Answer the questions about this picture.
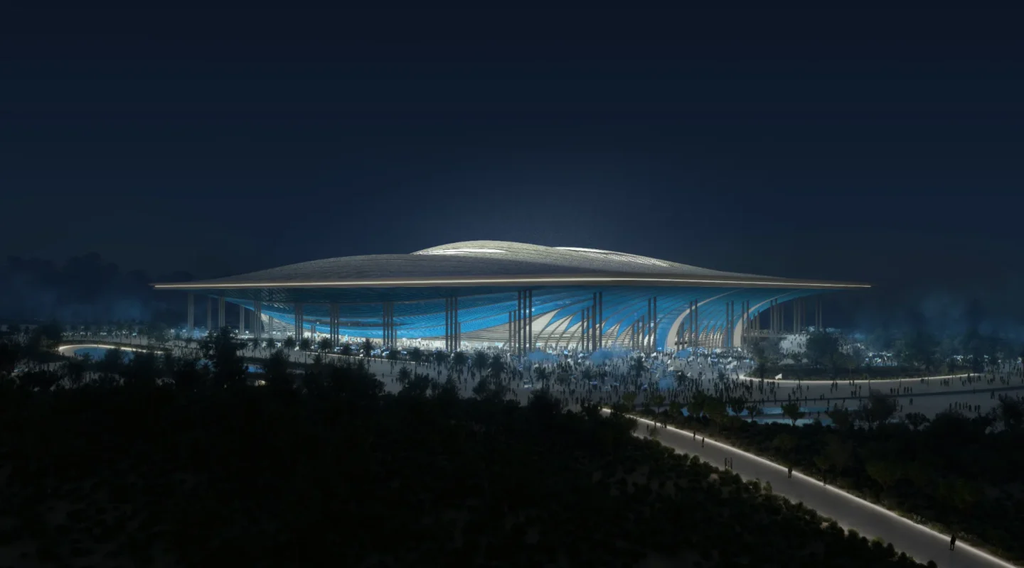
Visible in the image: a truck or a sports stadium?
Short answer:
sports stadium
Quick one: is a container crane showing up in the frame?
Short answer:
No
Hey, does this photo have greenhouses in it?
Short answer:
No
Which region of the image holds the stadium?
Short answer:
center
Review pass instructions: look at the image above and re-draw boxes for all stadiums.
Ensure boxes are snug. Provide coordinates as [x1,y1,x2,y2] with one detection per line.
[151,240,873,352]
